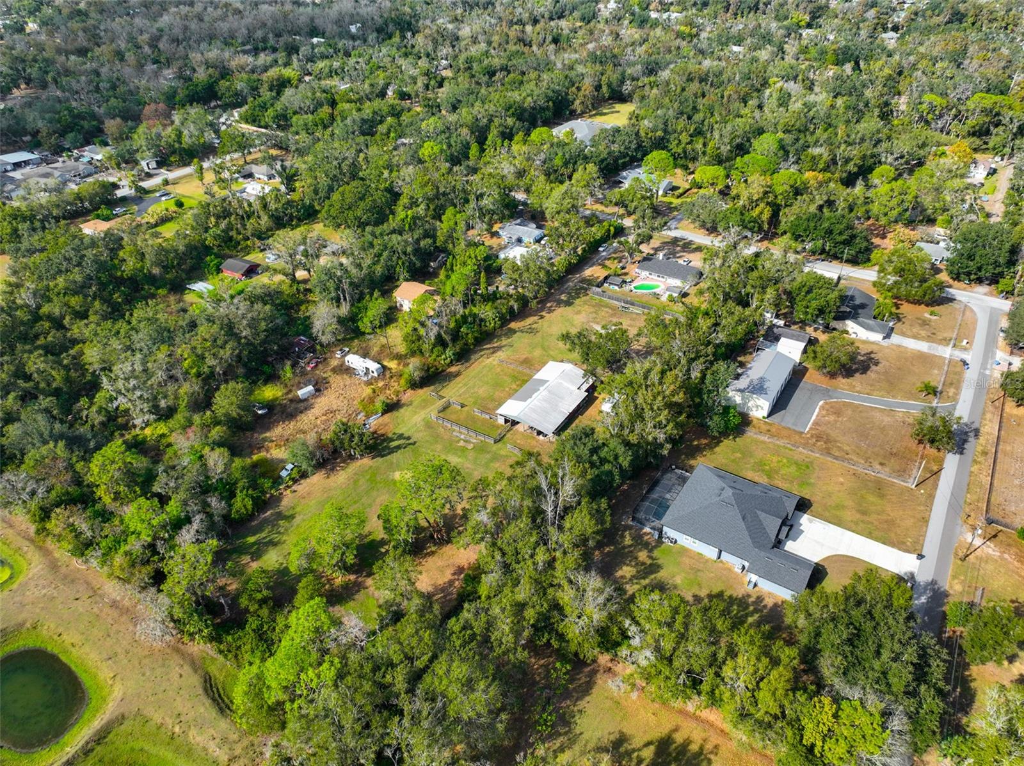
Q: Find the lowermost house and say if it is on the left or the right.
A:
right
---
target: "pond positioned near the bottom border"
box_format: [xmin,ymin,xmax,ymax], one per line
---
[0,654,93,757]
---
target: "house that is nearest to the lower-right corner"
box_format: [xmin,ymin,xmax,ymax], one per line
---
[659,462,815,601]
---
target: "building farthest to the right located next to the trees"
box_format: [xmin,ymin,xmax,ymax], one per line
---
[967,154,994,180]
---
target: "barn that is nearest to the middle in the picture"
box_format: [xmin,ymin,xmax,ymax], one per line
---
[493,361,600,440]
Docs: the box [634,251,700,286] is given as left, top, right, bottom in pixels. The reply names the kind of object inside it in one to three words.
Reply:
house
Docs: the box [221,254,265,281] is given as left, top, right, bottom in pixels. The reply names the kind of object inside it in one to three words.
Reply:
barn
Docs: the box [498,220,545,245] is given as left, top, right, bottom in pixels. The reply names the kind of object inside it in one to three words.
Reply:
house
